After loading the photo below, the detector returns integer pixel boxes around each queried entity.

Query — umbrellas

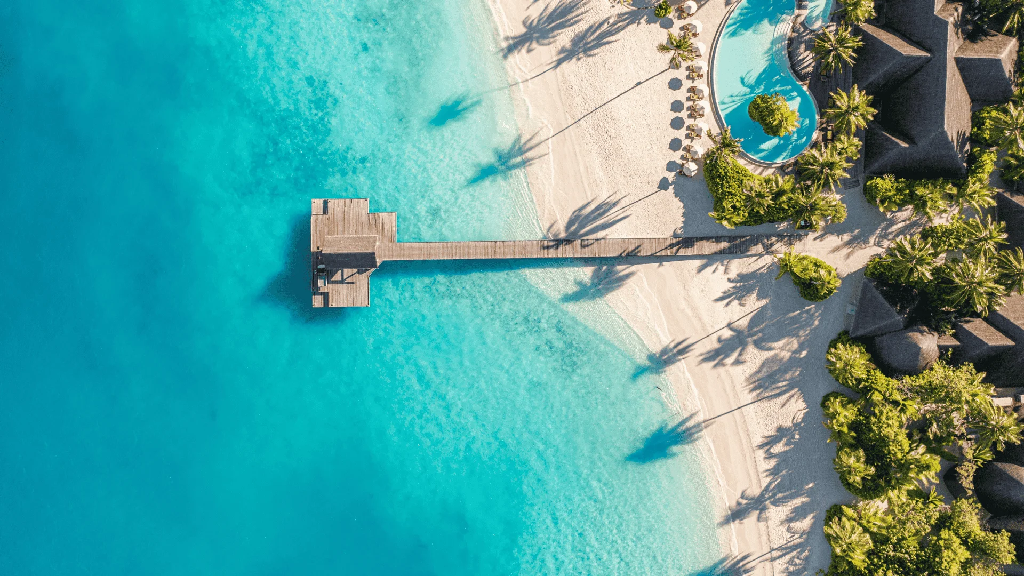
[689,21,702,34]
[683,1,697,15]
[695,84,709,98]
[689,145,703,159]
[691,42,705,56]
[694,61,707,75]
[683,163,696,177]
[696,101,709,115]
[694,123,707,136]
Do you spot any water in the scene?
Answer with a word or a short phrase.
Yes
